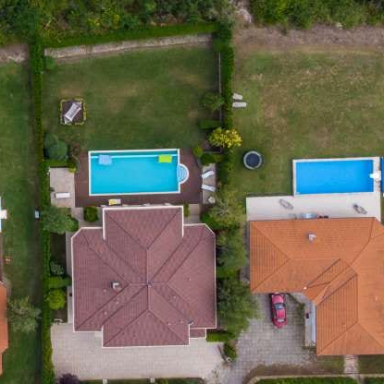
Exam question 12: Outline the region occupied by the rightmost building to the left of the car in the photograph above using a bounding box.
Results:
[71,205,217,348]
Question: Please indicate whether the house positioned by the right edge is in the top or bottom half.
bottom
